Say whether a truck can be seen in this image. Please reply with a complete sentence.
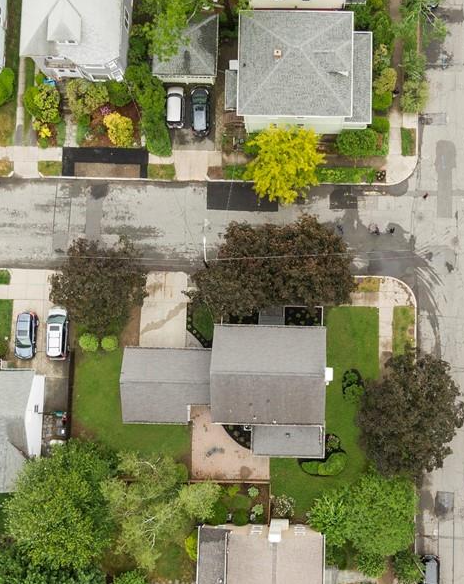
No, there's no truck here.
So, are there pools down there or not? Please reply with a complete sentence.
No, no pool is visible in the view.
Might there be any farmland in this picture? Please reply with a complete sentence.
No, there's no farmland in this view.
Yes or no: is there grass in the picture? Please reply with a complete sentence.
Yes, there is grass in the image.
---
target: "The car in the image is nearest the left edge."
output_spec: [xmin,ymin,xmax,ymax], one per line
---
[12,310,40,360]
